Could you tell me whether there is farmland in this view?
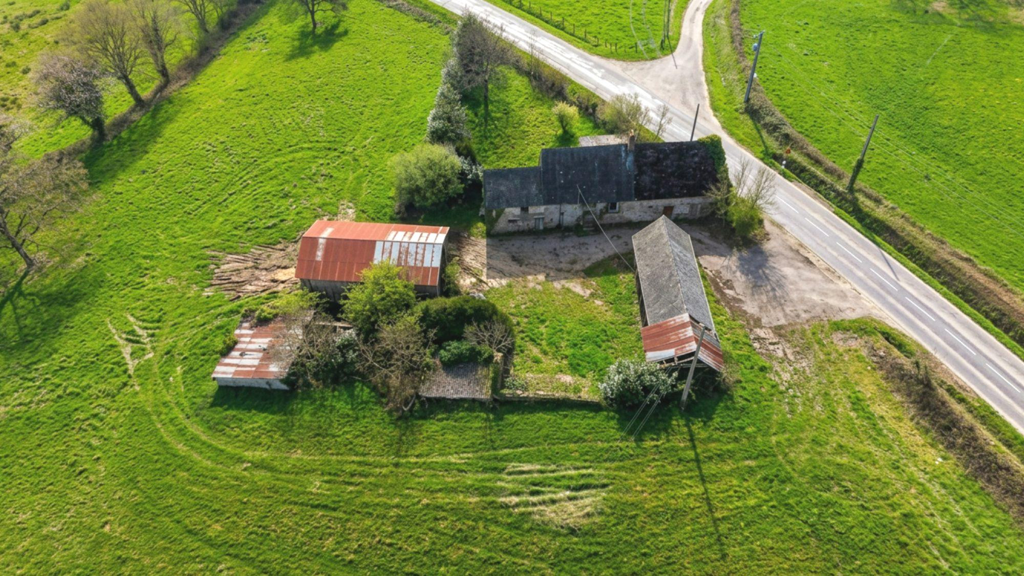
Yes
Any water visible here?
No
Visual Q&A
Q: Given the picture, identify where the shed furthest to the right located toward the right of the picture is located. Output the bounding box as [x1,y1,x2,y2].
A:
[631,215,723,387]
